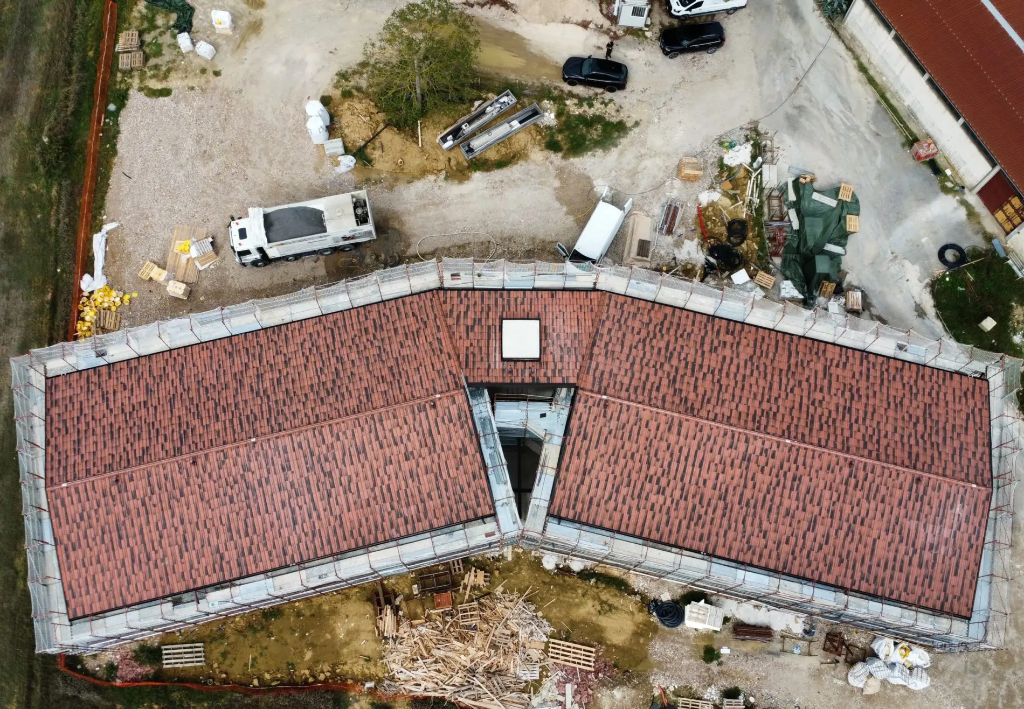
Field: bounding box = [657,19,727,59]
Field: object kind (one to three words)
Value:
car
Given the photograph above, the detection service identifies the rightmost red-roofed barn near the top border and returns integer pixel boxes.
[826,0,1024,239]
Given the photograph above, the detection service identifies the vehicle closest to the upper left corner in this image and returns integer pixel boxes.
[224,189,377,268]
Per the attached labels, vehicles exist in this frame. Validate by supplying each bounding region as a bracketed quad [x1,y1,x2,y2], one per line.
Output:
[562,191,630,276]
[667,0,752,19]
[224,189,377,268]
[657,19,727,59]
[560,53,630,93]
